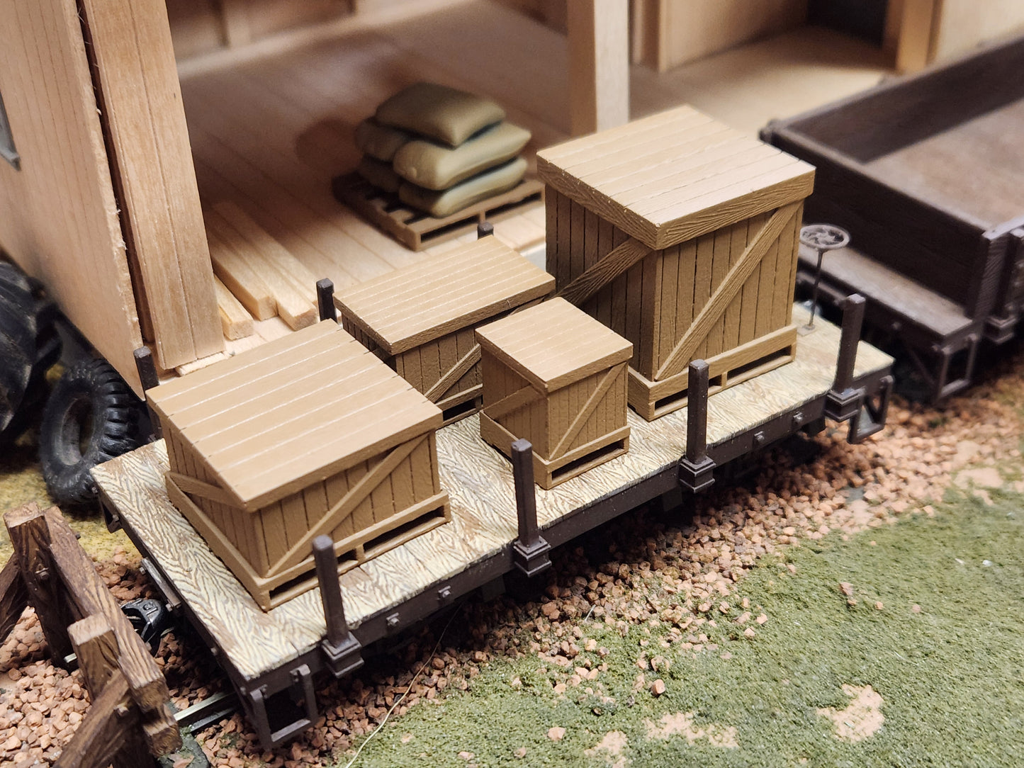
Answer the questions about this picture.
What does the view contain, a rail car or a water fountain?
rail car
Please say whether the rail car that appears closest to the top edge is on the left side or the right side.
right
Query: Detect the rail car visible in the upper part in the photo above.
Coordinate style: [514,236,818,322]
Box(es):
[753,26,1024,398]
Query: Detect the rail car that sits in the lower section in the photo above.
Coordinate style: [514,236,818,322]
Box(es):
[91,224,897,753]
